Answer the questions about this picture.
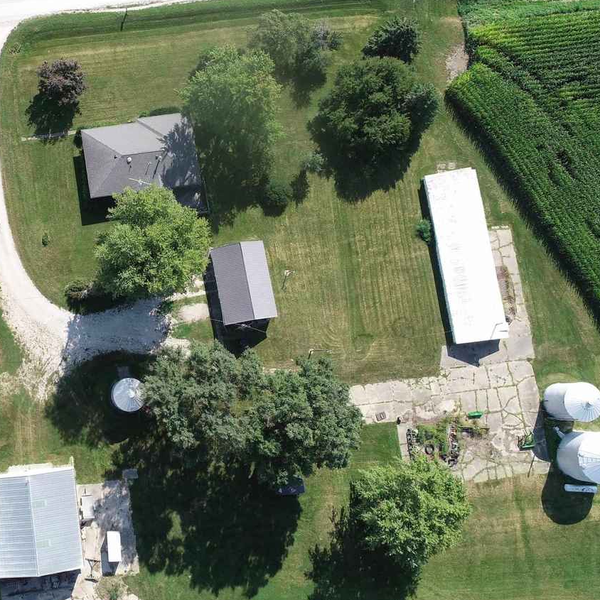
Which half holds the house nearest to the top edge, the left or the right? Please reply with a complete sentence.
It is on the left.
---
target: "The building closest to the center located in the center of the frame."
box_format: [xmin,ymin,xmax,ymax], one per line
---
[210,240,277,325]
